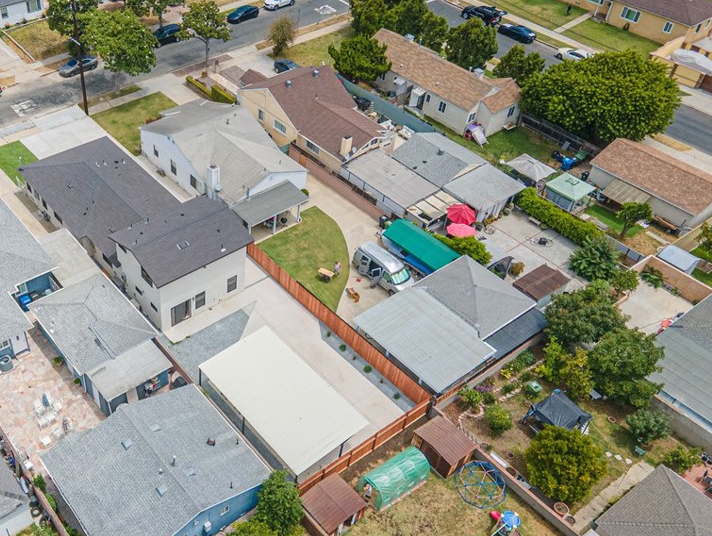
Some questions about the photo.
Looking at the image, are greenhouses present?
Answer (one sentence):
Yes, the picture does show a greenhouse.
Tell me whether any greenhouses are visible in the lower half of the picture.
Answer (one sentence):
Yes, in the lower half of the picture there is a greenhouse.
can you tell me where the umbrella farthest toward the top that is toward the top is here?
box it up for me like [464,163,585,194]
[498,153,560,189]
